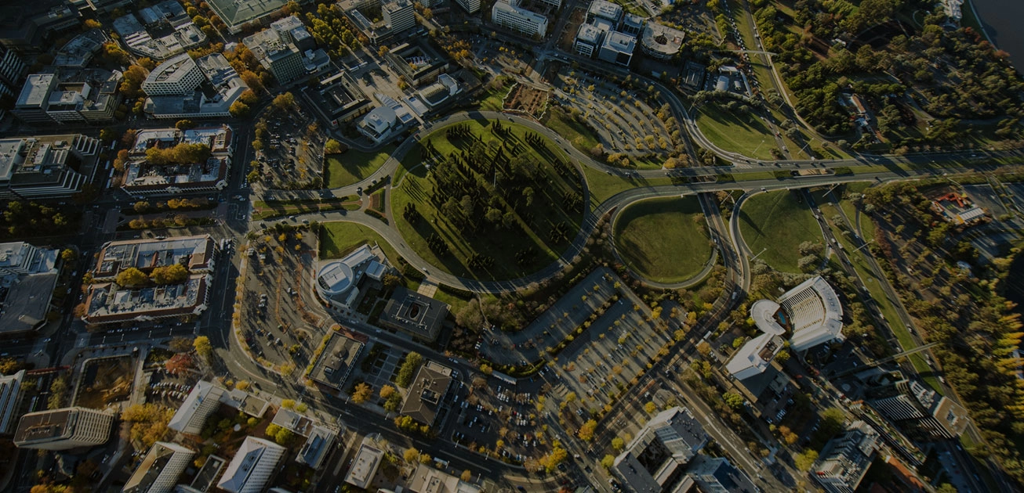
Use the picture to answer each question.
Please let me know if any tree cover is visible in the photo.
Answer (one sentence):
Yes, there's tree cover in this view.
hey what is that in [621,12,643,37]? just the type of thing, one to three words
building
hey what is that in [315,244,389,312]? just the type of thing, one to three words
building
